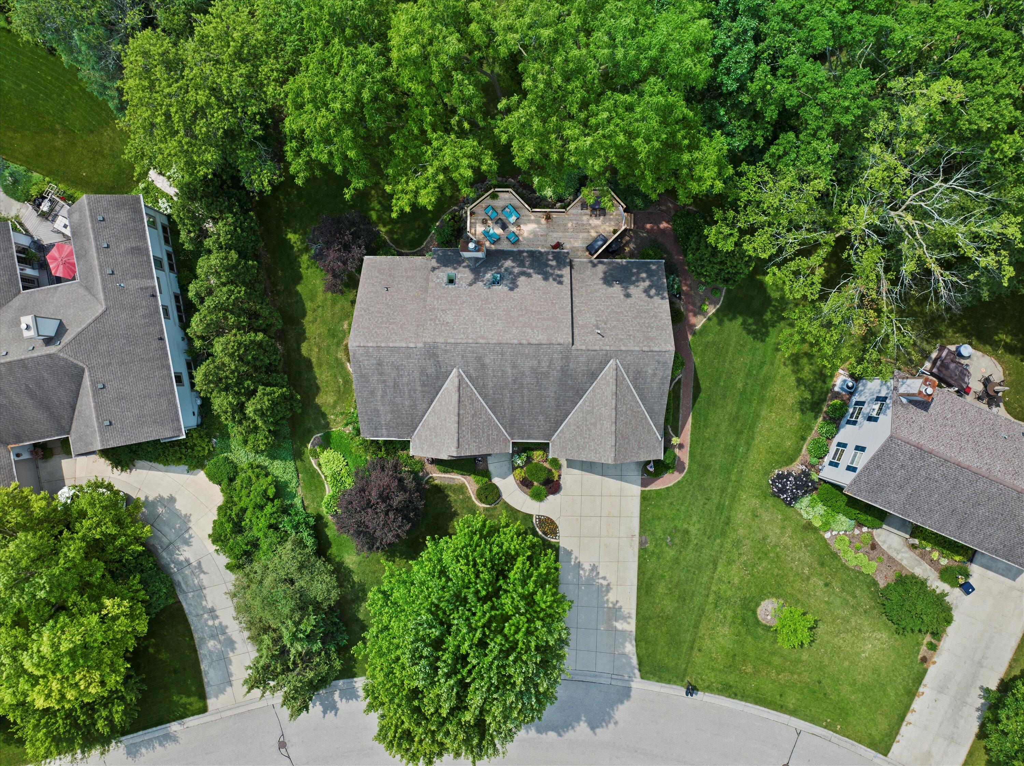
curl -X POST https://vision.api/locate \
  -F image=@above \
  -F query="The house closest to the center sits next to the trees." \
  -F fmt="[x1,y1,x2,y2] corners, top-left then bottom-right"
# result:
[349,240,675,464]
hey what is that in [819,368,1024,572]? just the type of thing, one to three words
house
